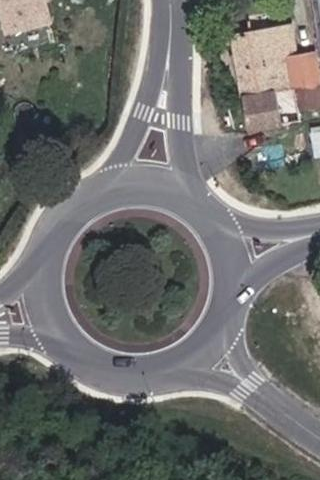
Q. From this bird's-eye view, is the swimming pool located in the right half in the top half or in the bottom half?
top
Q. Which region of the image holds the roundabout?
center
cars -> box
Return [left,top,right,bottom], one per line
[113,357,133,368]
[236,286,256,305]
[299,26,310,47]
[243,132,264,146]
